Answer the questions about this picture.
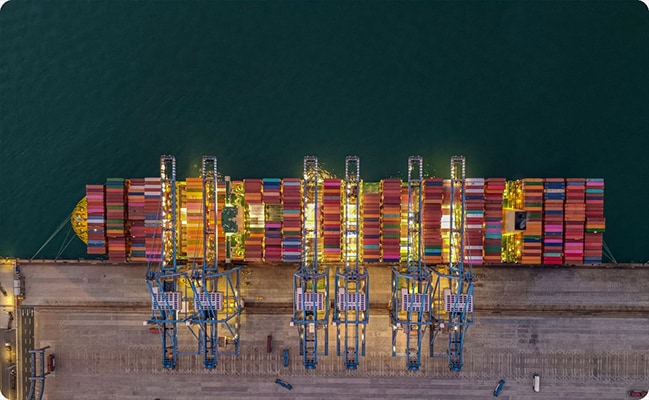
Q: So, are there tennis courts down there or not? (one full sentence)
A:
No, there isn't any tennis court down there.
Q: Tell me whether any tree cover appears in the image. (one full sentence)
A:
No, tree cover can't be seen anywhere here.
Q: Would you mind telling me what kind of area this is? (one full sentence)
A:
What you see here is a port.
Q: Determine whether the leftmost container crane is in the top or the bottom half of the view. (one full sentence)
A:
The bottom half of the photo is where the leftmost container crane is.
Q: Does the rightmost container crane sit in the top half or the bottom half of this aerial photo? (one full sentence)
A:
Seen from above, the rightmost container crane lies in the bottom half of the view.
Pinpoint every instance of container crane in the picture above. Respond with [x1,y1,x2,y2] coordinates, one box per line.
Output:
[184,153,245,373]
[286,153,331,373]
[143,153,207,372]
[423,154,480,374]
[328,154,373,373]
[383,154,436,373]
